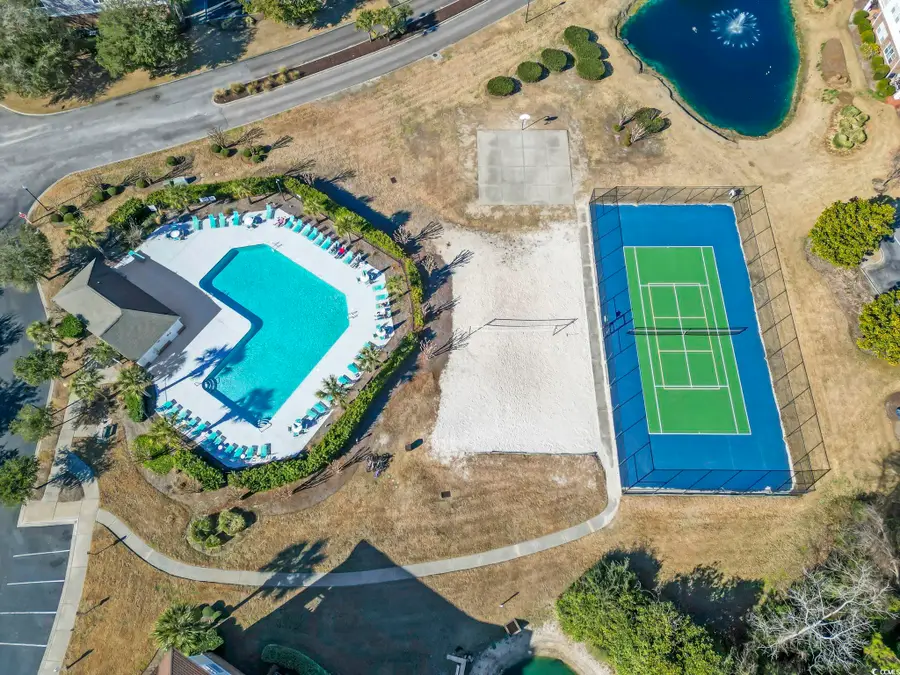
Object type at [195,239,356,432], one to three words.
swimming pool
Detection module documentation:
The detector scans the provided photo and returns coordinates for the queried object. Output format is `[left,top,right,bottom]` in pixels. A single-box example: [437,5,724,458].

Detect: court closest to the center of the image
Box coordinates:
[477,129,574,205]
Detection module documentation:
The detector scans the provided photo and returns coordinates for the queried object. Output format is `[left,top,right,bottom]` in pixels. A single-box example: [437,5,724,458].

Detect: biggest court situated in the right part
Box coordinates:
[587,201,795,495]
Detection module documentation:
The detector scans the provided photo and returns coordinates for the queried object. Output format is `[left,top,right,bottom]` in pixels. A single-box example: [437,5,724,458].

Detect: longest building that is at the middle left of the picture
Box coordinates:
[53,258,187,367]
